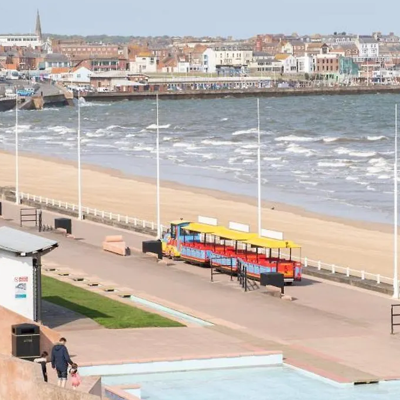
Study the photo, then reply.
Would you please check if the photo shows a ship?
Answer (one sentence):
No, the frame has no ship in it.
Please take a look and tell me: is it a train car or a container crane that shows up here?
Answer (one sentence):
The one in the frame is a train car.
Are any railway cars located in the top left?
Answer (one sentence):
No, no railway car is visible in the top left.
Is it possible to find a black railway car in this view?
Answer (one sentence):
No, I find no black railway car anywhere in the image.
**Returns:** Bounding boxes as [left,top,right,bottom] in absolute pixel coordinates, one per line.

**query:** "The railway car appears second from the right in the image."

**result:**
[210,223,268,277]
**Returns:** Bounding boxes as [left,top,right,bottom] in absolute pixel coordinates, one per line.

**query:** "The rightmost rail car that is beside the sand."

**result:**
[242,229,309,286]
